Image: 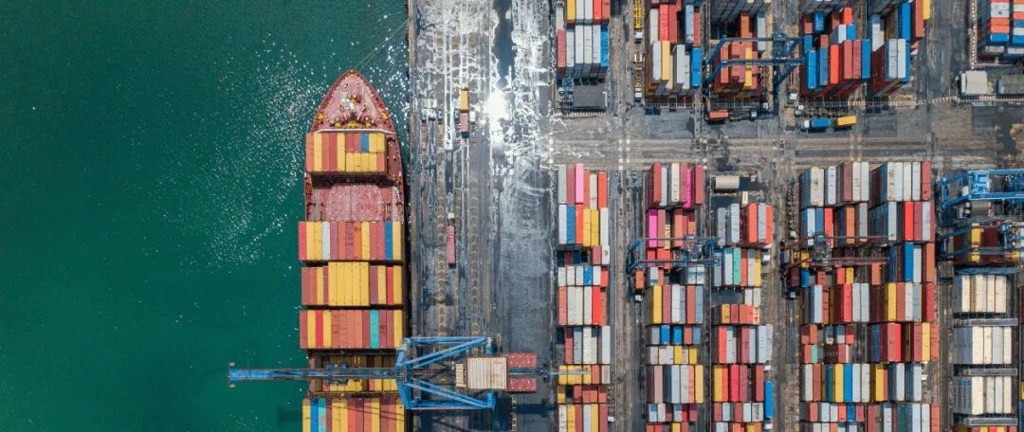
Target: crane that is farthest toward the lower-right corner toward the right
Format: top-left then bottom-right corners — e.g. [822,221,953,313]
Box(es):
[940,224,1024,261]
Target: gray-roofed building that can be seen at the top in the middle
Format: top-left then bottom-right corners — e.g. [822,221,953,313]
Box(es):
[573,81,607,108]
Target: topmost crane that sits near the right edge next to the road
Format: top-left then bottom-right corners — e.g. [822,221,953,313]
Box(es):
[940,169,1024,213]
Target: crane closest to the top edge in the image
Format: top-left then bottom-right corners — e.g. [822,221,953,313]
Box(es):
[703,36,804,91]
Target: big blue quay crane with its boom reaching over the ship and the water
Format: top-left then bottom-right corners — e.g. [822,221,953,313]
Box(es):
[227,332,590,414]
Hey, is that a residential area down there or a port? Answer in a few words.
port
